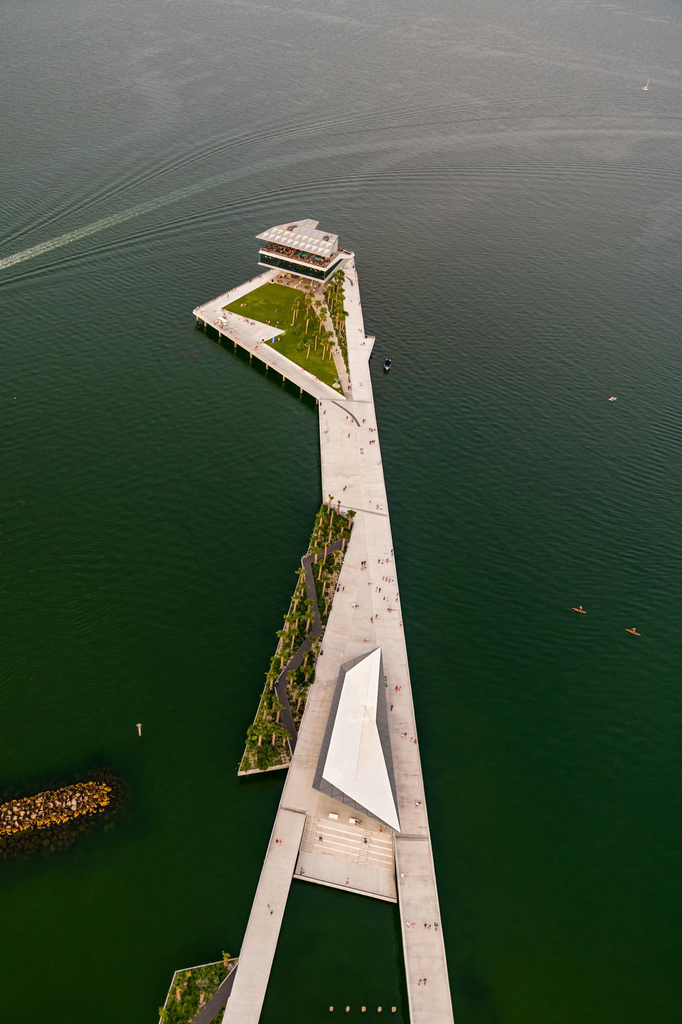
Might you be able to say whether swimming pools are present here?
No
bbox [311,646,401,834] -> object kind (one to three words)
building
